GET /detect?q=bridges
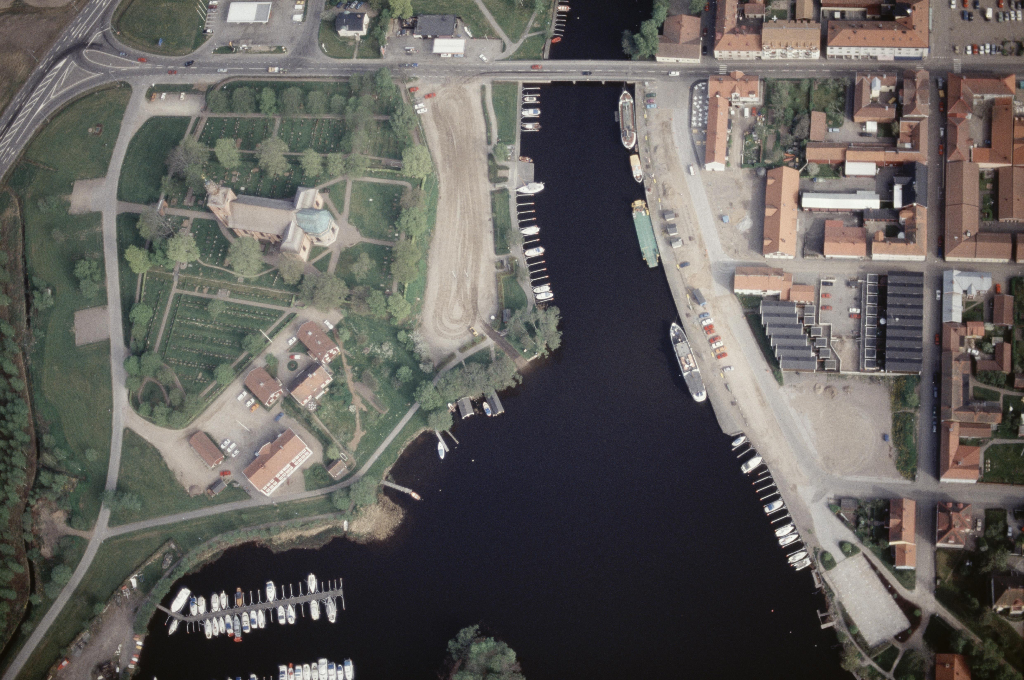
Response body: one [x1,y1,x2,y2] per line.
[479,58,657,84]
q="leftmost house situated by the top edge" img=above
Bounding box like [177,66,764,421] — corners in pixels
[335,10,369,37]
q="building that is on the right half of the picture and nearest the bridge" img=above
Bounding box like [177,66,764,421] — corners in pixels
[656,10,701,65]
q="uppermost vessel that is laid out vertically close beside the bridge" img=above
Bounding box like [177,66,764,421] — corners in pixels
[619,90,636,151]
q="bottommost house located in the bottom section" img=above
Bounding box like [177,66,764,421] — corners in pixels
[936,652,972,680]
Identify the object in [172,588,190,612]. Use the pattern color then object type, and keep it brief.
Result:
white boat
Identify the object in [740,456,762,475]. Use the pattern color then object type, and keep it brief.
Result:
white boat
